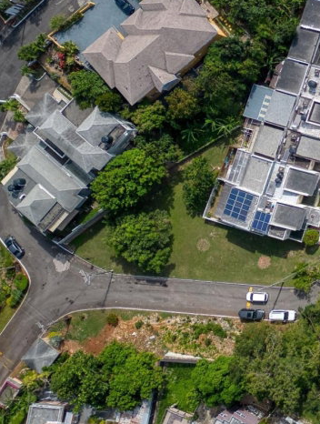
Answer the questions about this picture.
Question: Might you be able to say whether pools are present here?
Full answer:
No, I can see no pool in this picture.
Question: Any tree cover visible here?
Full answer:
Yes, tree cover shows up in the scene.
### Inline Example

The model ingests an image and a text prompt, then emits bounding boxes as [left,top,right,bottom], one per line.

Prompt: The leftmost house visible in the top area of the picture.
[0,94,149,233]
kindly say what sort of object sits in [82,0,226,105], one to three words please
house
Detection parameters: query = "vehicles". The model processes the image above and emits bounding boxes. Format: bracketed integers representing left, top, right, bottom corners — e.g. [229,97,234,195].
[246,292,269,303]
[268,310,297,322]
[2,235,28,261]
[238,309,266,321]
[114,0,138,18]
